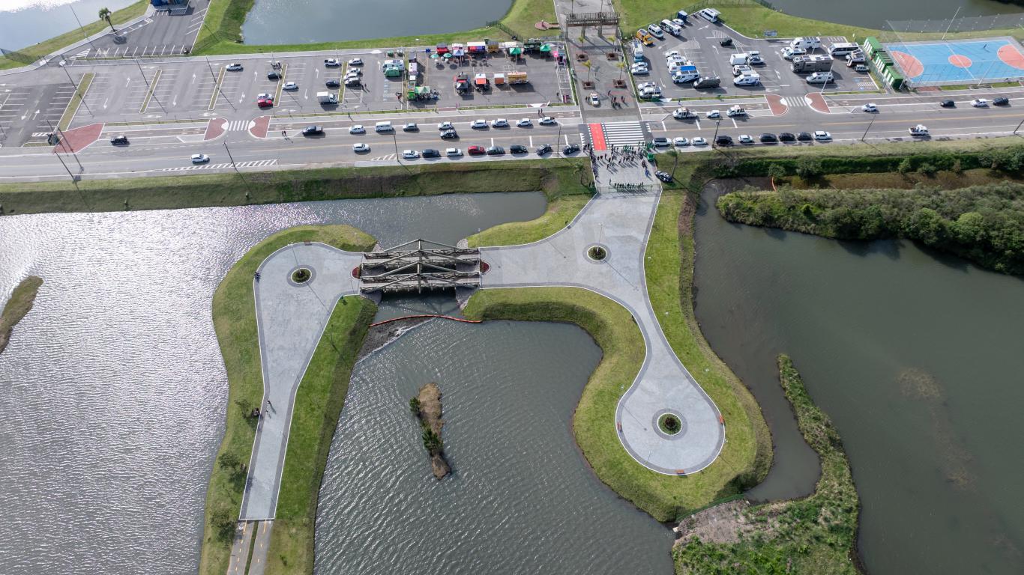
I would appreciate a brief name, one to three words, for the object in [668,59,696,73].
camper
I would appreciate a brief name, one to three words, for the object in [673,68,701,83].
camper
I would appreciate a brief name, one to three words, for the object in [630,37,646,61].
vehicle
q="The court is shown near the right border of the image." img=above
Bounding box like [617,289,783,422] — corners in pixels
[882,36,1024,87]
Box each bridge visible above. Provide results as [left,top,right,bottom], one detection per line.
[362,238,480,294]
